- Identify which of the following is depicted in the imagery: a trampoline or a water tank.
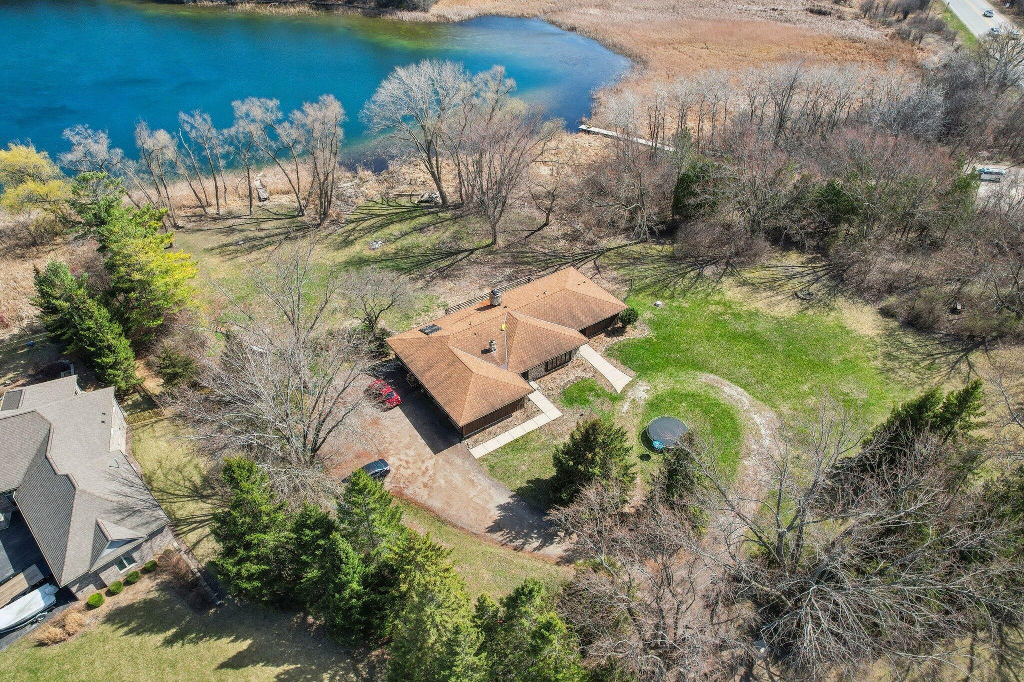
trampoline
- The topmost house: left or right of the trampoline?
on its left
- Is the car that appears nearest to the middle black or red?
red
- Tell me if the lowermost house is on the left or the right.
left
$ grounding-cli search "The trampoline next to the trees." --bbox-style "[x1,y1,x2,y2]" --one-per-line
[646,417,687,453]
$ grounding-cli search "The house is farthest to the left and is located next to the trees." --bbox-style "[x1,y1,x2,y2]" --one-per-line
[0,375,174,600]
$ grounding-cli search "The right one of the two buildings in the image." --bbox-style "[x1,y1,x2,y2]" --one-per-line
[384,266,629,440]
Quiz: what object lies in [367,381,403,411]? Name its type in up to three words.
car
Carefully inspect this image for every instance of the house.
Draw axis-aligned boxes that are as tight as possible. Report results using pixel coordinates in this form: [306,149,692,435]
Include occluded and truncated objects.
[384,266,629,440]
[0,375,174,600]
